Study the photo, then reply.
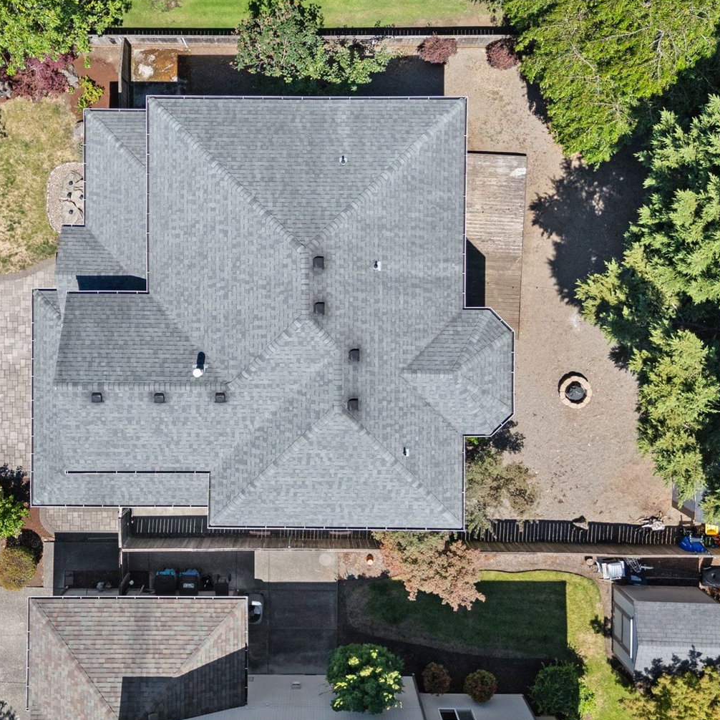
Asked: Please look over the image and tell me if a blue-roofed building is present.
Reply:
No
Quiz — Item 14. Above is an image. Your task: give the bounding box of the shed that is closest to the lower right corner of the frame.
[612,586,720,675]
